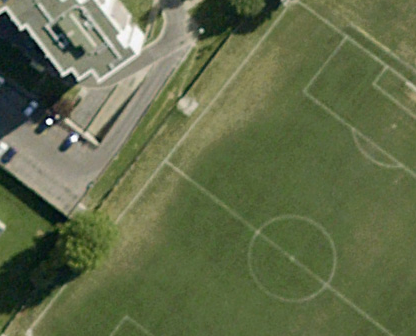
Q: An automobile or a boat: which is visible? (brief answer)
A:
automobile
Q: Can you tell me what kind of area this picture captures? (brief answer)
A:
sports ground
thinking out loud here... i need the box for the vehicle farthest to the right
[60,134,77,152]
